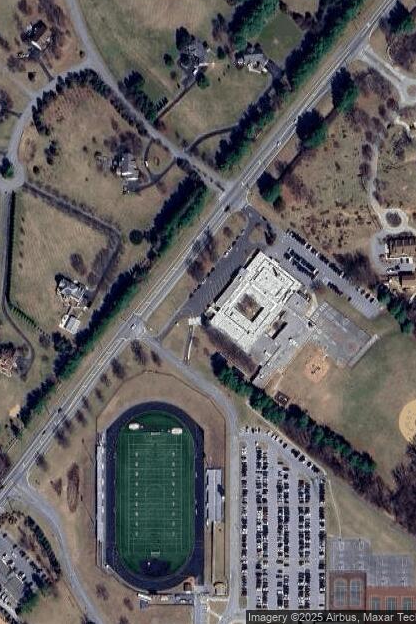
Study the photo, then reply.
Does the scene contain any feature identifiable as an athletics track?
Yes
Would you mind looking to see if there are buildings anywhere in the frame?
Yes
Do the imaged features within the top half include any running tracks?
No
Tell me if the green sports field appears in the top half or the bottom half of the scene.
bottom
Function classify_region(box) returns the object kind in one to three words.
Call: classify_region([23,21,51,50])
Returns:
house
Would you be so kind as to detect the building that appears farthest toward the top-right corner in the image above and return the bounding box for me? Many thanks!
[237,52,266,70]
